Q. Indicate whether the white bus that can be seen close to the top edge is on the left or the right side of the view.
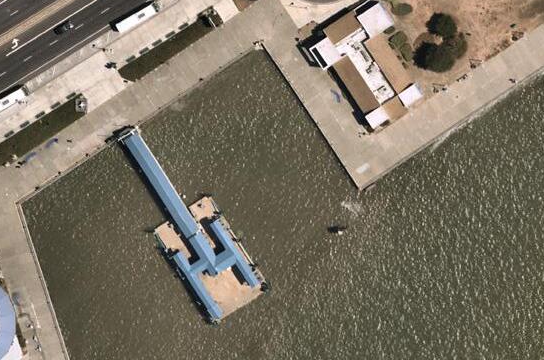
left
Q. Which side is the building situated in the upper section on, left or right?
right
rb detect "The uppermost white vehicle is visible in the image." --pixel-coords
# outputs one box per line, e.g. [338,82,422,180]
[115,0,160,33]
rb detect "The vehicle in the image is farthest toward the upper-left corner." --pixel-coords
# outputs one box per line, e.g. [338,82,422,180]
[54,20,73,34]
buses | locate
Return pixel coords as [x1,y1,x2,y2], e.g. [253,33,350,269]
[0,84,29,111]
[115,0,160,33]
